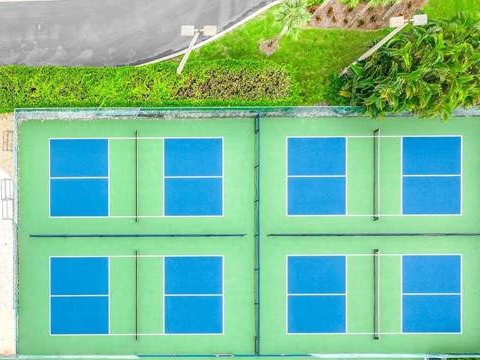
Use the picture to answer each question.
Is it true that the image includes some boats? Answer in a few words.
No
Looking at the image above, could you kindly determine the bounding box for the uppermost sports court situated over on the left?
[18,117,255,236]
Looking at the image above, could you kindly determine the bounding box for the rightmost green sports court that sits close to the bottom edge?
[255,236,480,355]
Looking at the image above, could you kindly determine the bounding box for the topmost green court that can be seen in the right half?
[255,117,480,236]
